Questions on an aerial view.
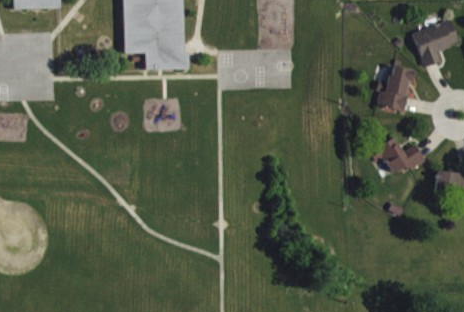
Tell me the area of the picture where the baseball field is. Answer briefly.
bottom left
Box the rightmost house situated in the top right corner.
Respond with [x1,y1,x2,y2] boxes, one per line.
[408,16,458,70]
